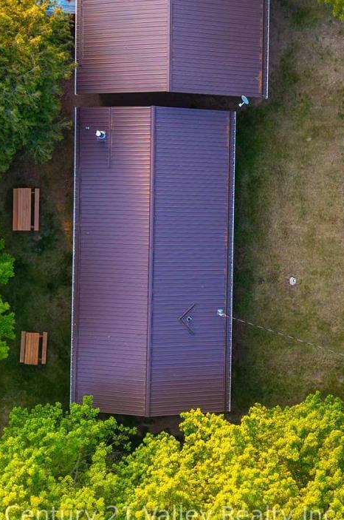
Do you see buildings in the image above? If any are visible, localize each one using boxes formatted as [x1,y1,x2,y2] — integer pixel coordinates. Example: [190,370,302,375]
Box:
[72,0,270,98]
[67,105,238,415]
